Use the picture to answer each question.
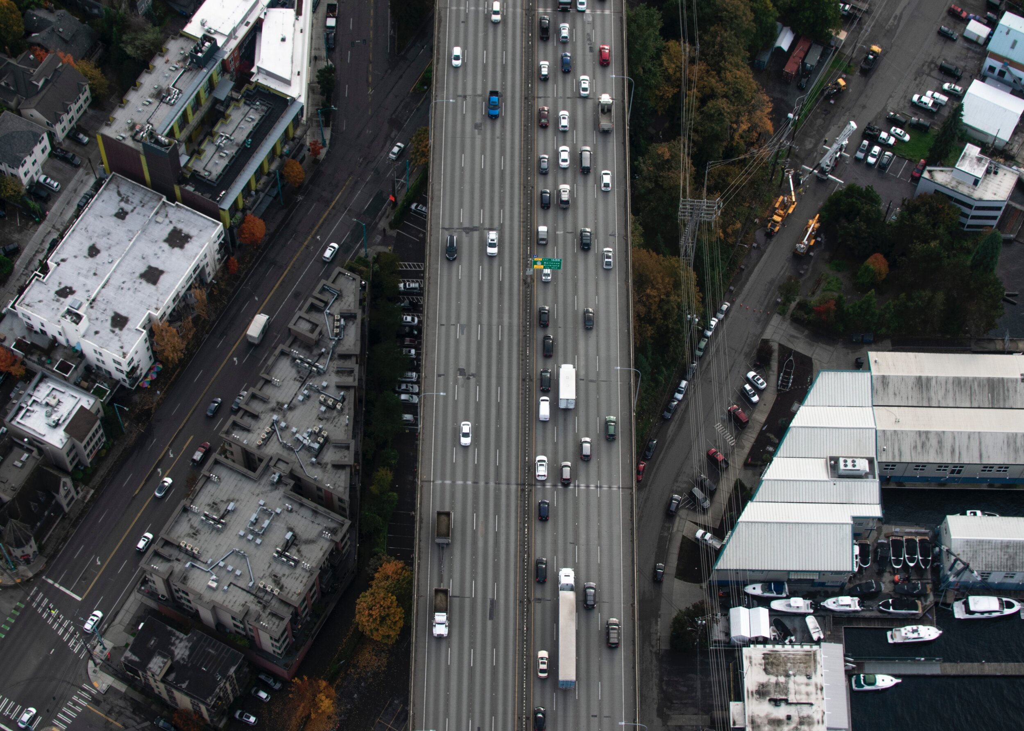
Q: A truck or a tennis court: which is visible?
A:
truck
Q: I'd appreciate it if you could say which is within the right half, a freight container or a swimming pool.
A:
freight container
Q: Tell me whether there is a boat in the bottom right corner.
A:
Yes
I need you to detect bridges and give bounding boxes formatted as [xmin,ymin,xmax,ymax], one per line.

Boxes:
[407,0,641,731]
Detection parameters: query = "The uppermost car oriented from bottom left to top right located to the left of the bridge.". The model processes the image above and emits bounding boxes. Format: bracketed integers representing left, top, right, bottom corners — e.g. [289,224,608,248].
[388,143,405,162]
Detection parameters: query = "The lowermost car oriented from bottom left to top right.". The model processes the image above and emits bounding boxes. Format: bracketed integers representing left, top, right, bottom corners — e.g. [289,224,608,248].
[16,706,38,731]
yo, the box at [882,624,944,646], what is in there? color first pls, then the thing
white boat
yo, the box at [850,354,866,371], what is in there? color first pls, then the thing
black car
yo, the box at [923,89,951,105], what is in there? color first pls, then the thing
white vehicle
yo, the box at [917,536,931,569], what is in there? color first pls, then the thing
black boat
